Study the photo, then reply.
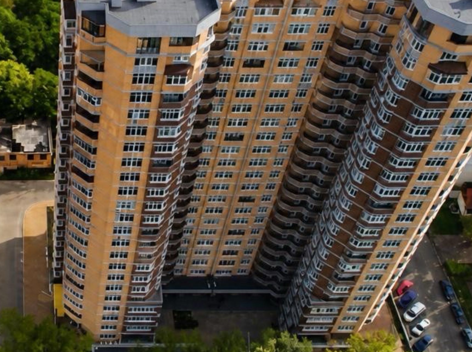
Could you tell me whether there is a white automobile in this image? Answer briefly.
Yes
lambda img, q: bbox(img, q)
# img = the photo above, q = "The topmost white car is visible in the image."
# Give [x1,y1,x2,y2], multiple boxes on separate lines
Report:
[405,303,426,322]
